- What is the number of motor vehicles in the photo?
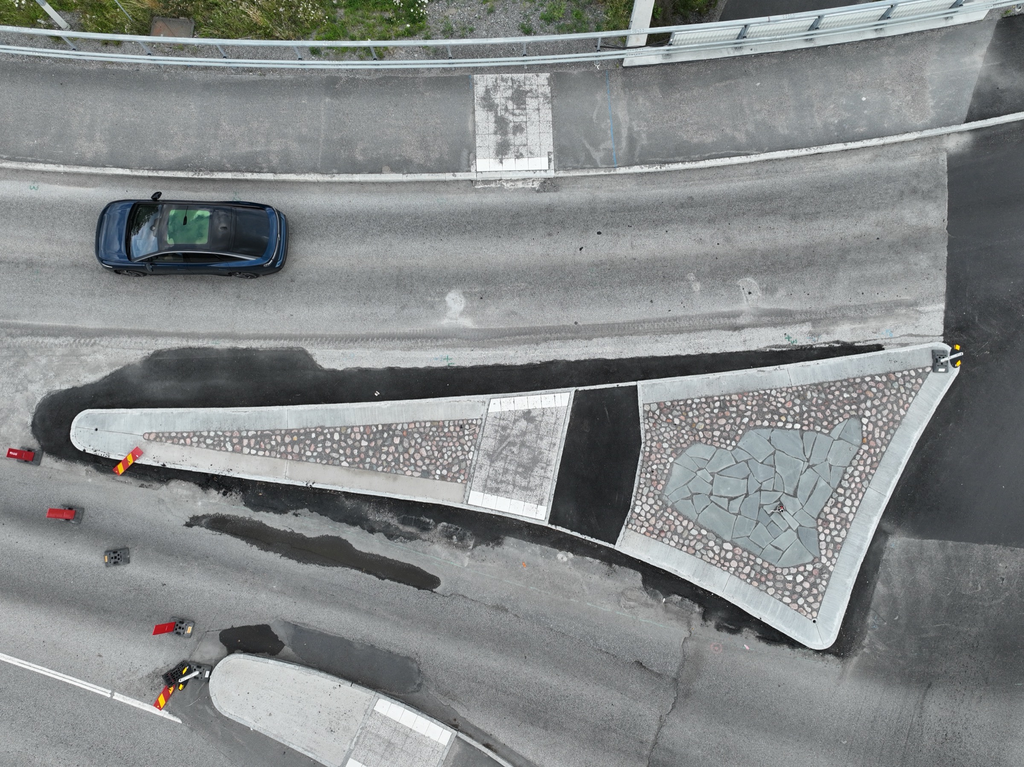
1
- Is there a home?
No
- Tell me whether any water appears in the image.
No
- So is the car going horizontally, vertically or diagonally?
horizontally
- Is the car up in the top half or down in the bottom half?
top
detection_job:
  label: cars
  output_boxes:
[93,189,290,279]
